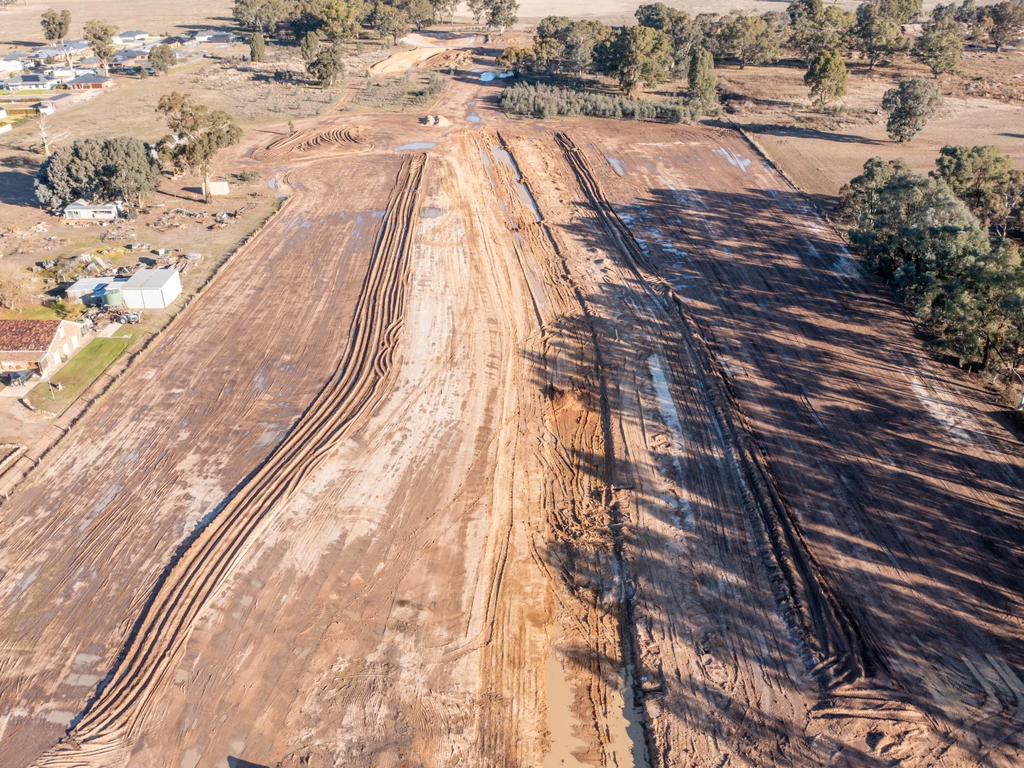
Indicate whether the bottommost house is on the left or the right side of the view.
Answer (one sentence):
It is on the left.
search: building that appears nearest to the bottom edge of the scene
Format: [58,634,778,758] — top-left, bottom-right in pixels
[0,317,91,379]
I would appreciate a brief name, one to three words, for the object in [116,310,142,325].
work vehicle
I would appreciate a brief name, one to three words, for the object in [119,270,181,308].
shed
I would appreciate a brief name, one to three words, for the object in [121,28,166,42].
house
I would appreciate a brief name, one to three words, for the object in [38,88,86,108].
building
